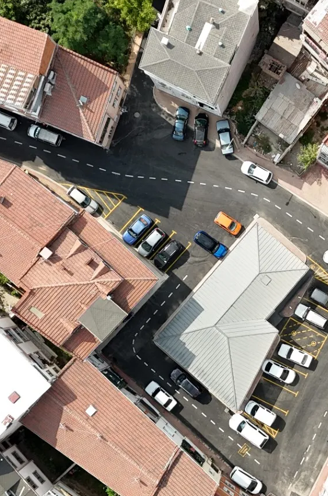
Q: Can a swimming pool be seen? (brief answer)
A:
No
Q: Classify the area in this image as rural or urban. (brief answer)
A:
urban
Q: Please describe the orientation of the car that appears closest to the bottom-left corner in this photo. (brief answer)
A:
on a diagonal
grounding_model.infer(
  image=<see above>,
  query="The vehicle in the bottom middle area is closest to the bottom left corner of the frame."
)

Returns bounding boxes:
[145,378,178,413]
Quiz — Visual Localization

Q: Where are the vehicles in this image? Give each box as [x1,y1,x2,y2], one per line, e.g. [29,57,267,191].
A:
[171,105,190,143]
[293,302,328,330]
[26,123,64,148]
[211,209,246,237]
[192,111,209,149]
[228,465,265,494]
[217,119,235,156]
[277,343,314,368]
[145,378,178,413]
[306,286,328,312]
[229,413,270,448]
[192,229,229,259]
[240,160,275,185]
[169,366,203,401]
[136,226,167,258]
[66,186,101,216]
[123,211,155,247]
[154,237,186,271]
[0,111,19,132]
[260,360,299,385]
[242,399,279,428]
